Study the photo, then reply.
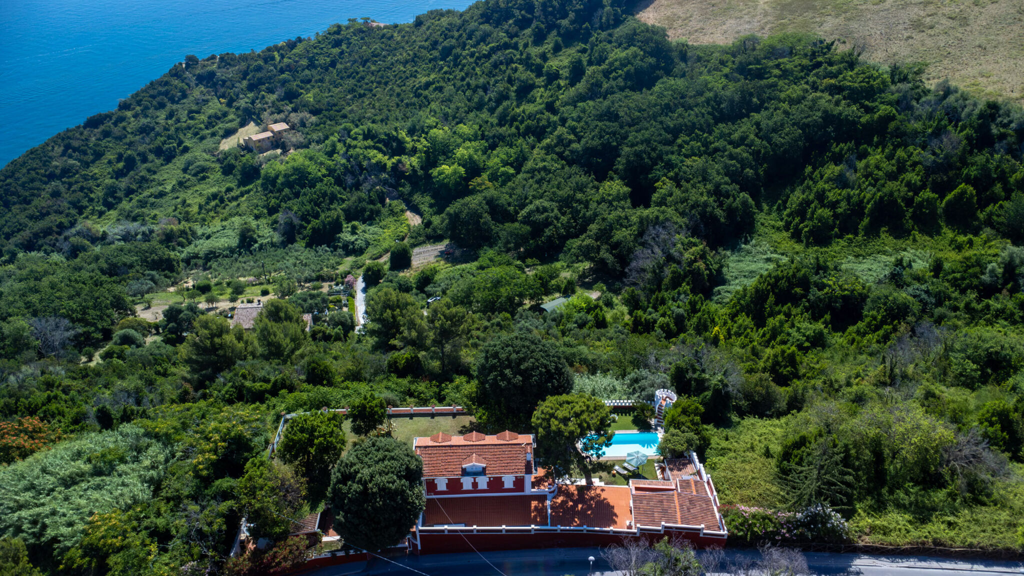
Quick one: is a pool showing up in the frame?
Yes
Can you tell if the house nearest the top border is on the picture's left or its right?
left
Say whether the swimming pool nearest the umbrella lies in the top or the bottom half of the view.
bottom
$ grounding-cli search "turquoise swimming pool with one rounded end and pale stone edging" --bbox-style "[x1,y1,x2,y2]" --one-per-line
[588,429,665,459]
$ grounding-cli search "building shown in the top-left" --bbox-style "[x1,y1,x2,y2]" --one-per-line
[241,121,295,159]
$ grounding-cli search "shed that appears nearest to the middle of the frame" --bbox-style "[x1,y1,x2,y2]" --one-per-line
[542,293,574,315]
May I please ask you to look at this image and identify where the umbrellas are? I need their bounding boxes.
[625,451,647,479]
